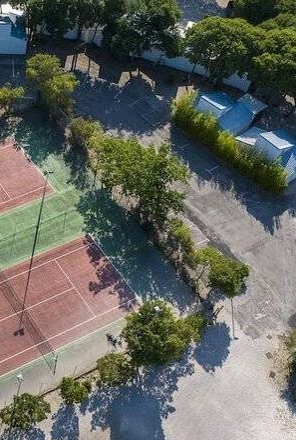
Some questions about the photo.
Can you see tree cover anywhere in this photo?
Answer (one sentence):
Yes, the picture does contain tree cover.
